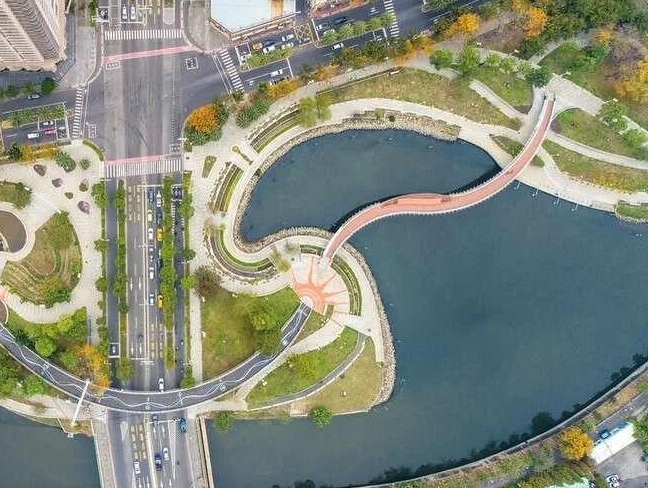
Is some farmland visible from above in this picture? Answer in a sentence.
No, there's no farmland in this view.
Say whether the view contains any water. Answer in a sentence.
Yes, there's water in this view.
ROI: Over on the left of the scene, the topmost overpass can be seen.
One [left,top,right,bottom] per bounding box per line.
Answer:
[0,304,311,413]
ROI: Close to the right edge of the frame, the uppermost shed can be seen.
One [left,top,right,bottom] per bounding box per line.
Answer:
[587,419,635,466]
